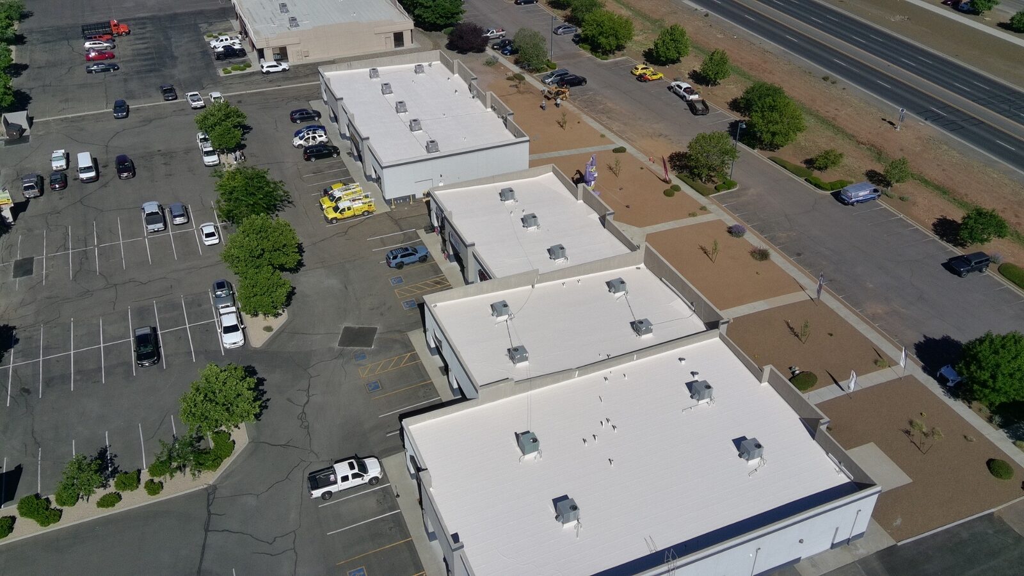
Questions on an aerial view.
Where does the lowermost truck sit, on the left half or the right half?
left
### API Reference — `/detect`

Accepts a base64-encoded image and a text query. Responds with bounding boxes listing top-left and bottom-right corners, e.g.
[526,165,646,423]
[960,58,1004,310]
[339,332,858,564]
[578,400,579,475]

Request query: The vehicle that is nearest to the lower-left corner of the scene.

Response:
[132,323,162,369]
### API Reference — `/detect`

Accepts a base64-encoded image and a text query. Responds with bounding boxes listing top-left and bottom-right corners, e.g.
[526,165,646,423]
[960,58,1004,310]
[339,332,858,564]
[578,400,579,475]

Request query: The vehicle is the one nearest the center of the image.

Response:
[384,245,431,269]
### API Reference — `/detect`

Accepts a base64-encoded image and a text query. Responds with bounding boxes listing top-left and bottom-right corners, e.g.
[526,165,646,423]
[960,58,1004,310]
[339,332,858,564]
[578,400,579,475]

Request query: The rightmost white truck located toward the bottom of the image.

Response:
[304,457,385,504]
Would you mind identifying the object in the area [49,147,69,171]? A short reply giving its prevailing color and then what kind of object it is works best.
white vehicle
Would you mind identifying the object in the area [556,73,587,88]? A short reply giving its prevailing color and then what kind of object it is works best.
black car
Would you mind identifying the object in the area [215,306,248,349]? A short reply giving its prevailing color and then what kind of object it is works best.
white truck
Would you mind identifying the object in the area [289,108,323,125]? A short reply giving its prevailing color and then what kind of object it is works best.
black car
